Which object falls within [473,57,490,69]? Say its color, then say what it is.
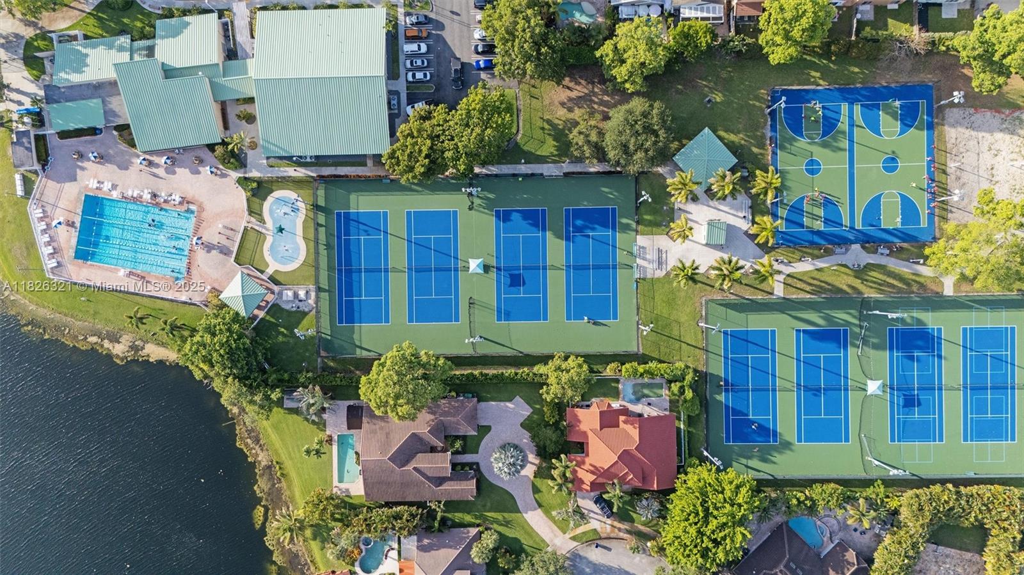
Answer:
blue vehicle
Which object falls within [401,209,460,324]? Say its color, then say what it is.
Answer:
blue tennis court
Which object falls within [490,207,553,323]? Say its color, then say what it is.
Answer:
blue tennis court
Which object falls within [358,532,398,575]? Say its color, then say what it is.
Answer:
blue swimming pool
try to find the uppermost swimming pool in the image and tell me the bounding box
[555,0,597,24]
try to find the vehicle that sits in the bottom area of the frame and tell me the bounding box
[592,496,613,519]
